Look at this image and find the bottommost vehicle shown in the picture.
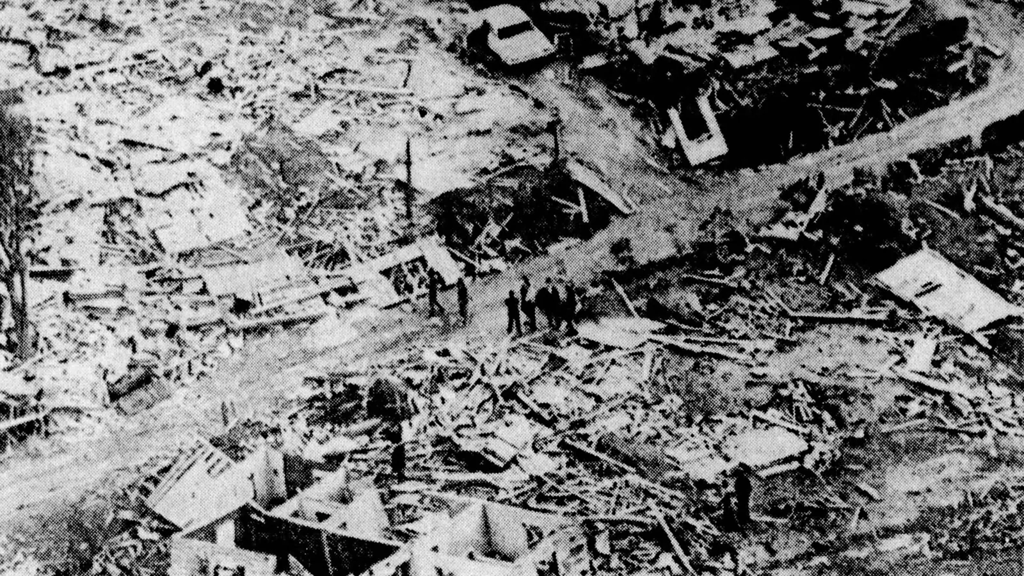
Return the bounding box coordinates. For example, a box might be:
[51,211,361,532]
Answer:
[668,90,736,164]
